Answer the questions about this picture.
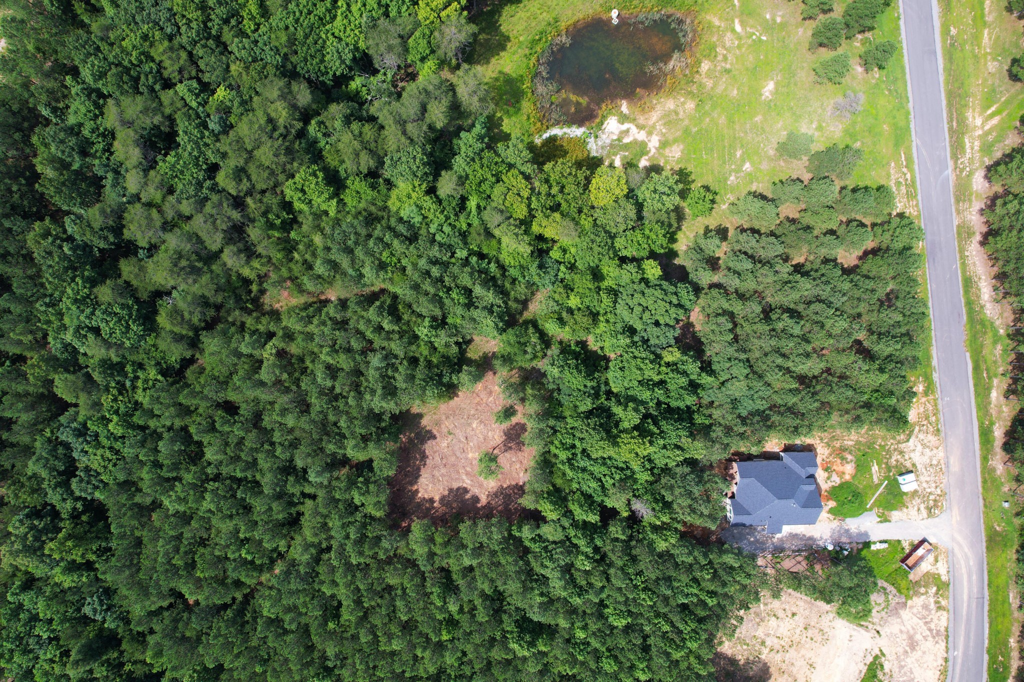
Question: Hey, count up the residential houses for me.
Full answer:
The photo contains exactly 1 residential house.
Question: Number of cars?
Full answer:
There are no cars in this view.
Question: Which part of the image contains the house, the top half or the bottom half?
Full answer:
The bottom half of the photo is where the house is.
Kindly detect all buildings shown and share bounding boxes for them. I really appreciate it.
[723,451,823,534]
